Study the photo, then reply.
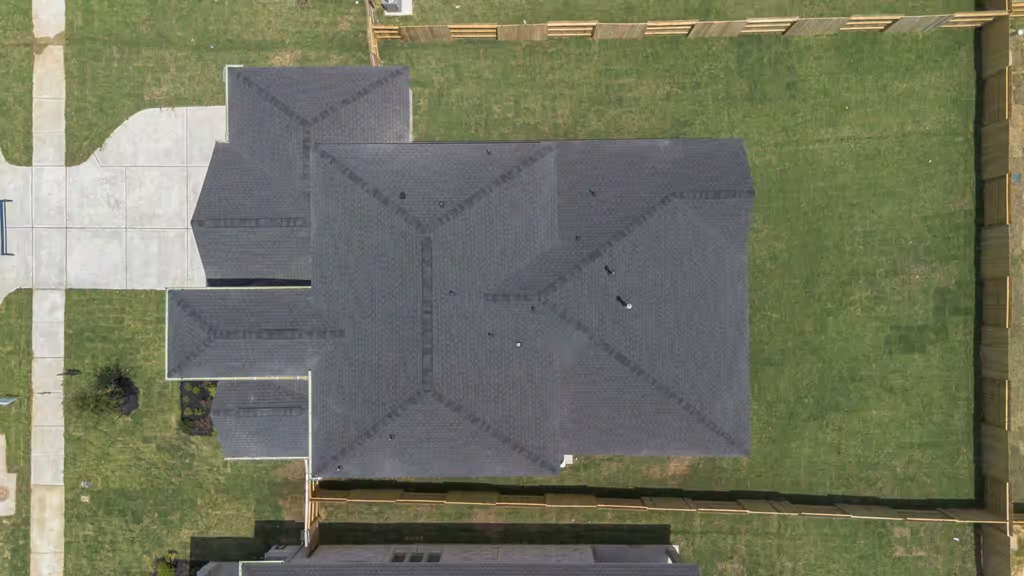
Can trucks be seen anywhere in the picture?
No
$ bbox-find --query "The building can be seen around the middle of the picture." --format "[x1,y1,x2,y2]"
[165,64,756,480]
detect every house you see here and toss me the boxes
[207,544,702,576]
[165,64,756,480]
